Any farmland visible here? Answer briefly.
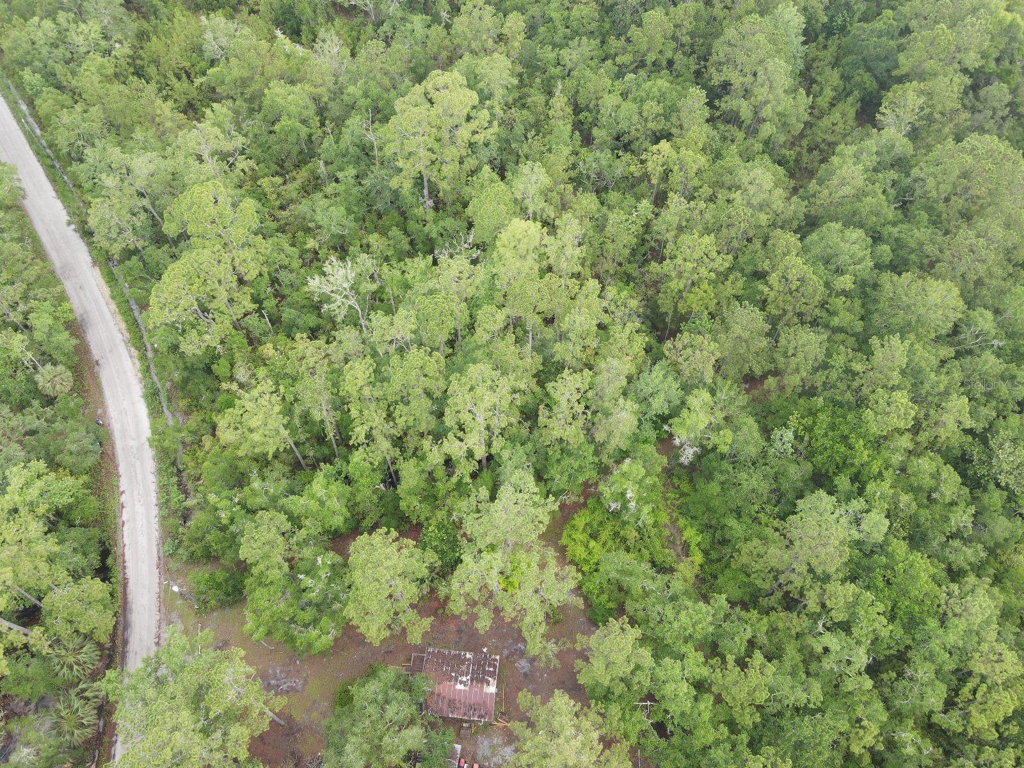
No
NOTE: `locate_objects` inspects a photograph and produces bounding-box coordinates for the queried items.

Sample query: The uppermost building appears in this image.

[403,650,501,744]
